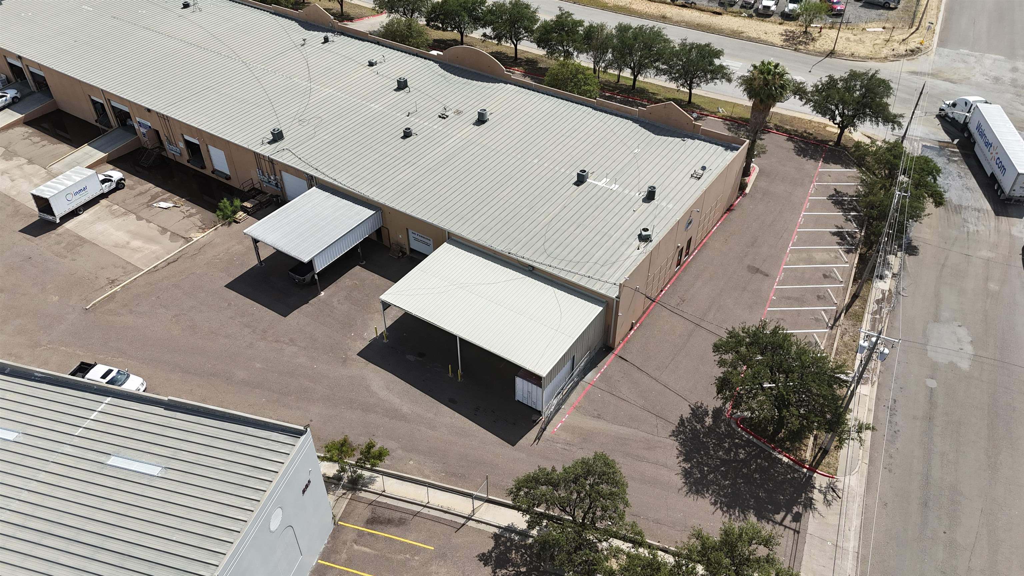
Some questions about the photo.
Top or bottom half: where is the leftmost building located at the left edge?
bottom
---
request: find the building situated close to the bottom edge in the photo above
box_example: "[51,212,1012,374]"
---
[0,359,333,576]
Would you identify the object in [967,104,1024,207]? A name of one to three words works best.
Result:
trailer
